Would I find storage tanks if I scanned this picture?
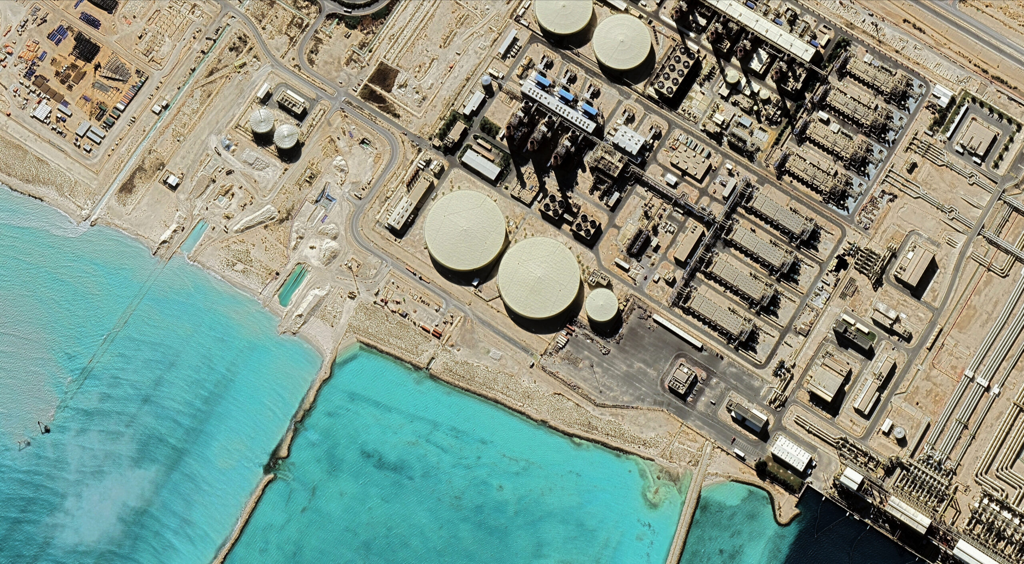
Yes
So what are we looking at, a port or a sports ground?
port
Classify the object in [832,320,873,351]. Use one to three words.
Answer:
building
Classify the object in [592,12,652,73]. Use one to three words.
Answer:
storage tank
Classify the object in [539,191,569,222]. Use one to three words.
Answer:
cooling tower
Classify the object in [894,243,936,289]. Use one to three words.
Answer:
building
